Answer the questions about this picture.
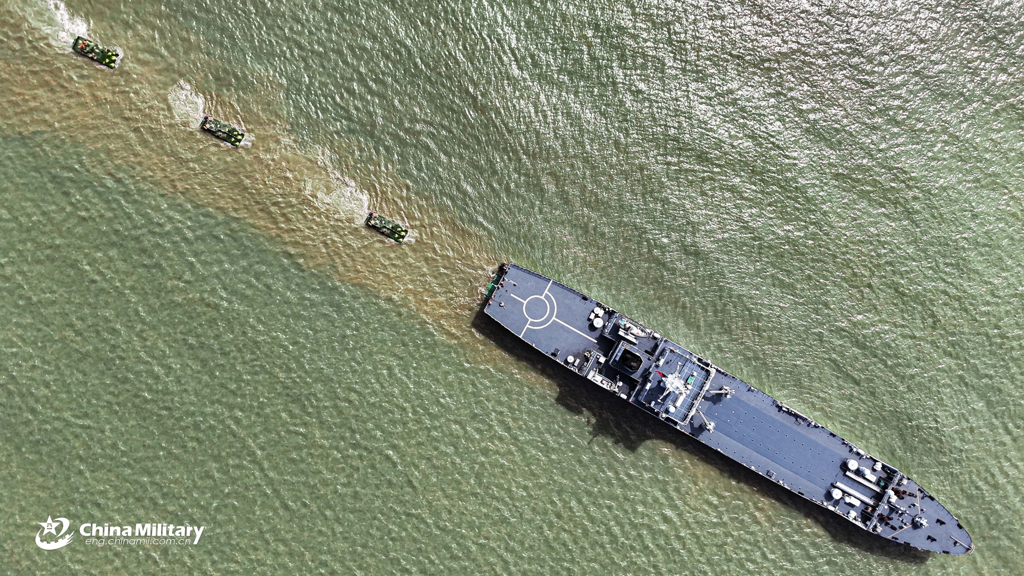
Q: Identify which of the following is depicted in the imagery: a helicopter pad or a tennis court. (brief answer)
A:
helicopter pad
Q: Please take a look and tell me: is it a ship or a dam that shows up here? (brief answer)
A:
ship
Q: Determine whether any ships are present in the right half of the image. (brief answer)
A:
Yes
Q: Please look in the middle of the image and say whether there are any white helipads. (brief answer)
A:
Yes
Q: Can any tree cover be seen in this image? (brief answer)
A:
No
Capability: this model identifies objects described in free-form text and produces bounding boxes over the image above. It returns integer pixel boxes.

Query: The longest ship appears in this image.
[485,263,975,555]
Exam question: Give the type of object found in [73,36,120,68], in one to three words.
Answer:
vehicle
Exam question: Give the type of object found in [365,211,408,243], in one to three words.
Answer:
vehicle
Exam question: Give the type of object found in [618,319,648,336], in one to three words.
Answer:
boat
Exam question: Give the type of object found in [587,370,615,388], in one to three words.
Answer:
boat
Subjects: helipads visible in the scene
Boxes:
[510,280,597,342]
